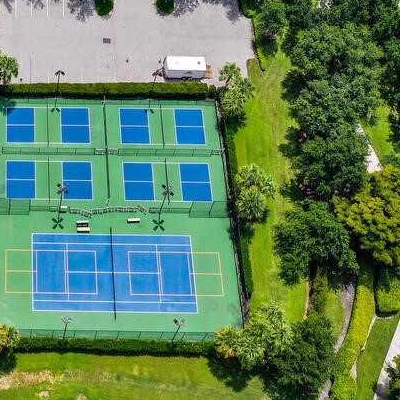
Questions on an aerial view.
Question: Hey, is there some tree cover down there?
Yes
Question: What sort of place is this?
sports ground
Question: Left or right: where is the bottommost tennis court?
left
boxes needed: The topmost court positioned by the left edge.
[0,100,107,151]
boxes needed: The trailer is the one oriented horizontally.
[157,56,214,81]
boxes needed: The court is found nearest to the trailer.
[104,101,222,153]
